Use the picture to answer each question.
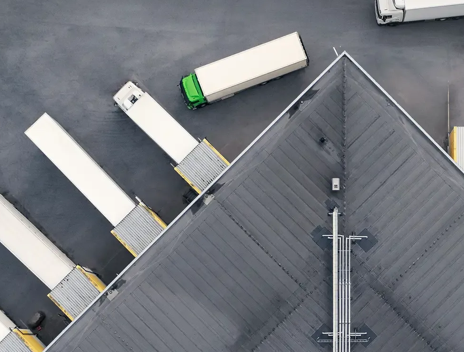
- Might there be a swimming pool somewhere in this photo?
No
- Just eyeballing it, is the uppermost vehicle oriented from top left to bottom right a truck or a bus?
truck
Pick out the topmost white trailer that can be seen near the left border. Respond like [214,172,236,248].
[21,109,137,226]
